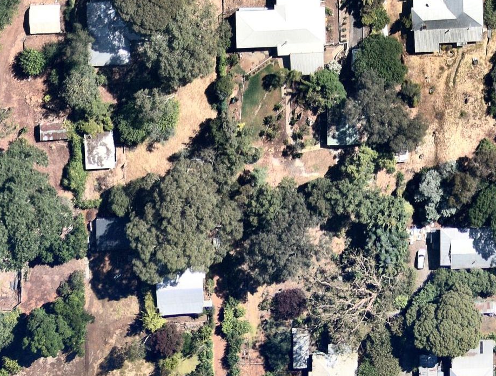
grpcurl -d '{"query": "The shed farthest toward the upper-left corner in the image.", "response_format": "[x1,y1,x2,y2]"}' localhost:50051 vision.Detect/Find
[29,2,61,34]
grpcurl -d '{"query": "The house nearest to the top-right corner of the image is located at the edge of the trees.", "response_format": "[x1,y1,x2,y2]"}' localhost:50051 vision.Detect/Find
[411,0,483,54]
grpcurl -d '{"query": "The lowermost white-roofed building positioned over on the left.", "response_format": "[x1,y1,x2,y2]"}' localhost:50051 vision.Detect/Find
[157,269,213,316]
